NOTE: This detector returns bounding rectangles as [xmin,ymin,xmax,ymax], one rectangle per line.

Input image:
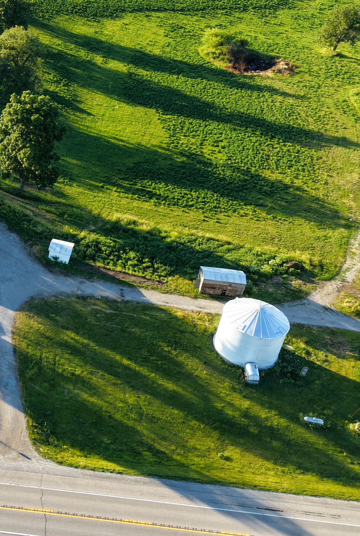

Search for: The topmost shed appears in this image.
[49,239,74,263]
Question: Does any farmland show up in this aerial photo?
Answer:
Yes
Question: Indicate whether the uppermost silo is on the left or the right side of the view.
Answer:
right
